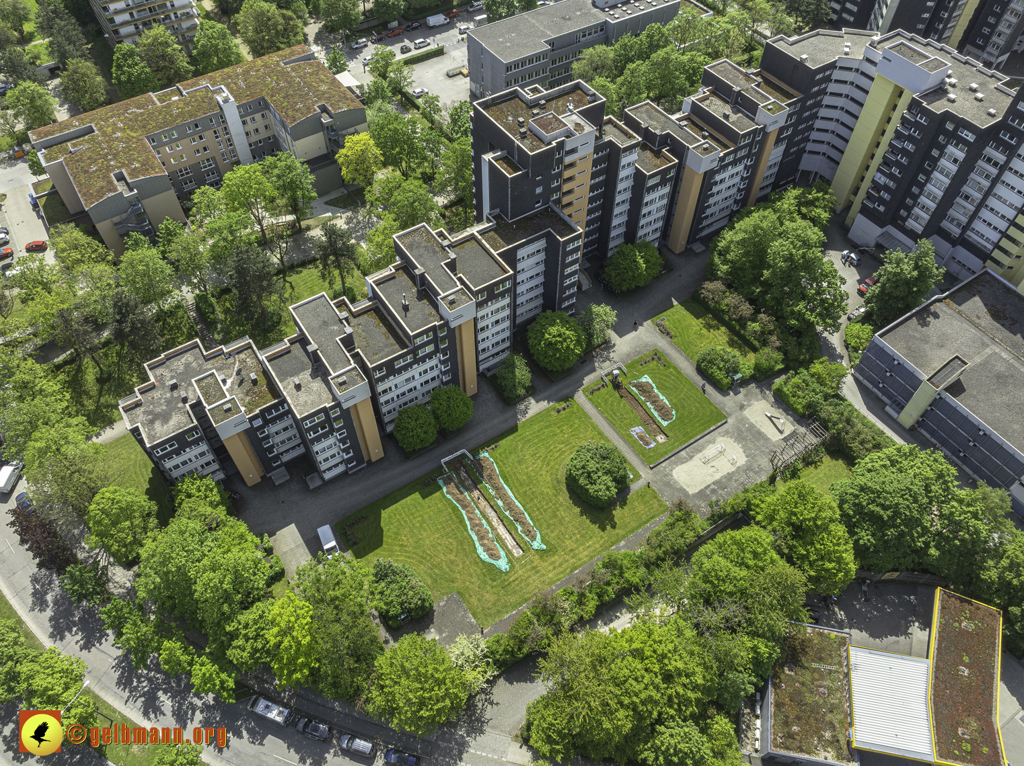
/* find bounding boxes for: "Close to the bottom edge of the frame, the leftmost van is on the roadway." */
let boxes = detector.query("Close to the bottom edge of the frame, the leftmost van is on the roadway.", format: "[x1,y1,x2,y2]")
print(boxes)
[246,699,291,734]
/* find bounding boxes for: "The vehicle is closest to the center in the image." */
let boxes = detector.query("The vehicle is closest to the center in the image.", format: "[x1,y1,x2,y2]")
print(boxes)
[610,372,628,395]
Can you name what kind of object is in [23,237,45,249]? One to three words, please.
vehicle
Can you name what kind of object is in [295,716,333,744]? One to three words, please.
car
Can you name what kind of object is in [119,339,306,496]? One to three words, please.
building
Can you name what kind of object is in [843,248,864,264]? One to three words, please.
car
